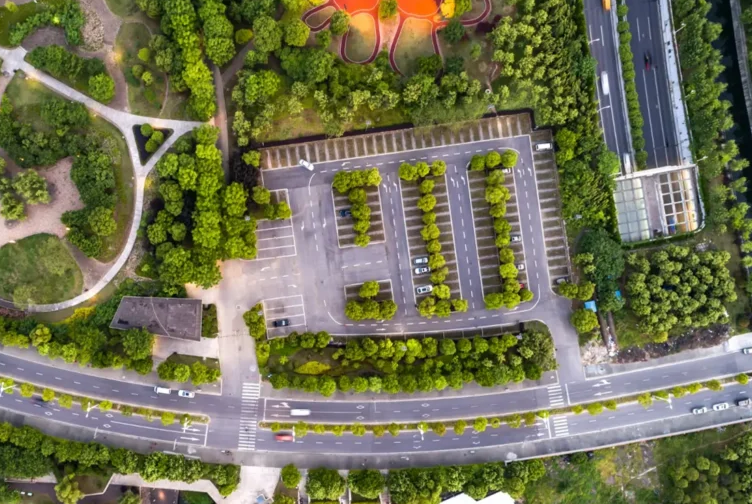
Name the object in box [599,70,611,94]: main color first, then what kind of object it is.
white vehicle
